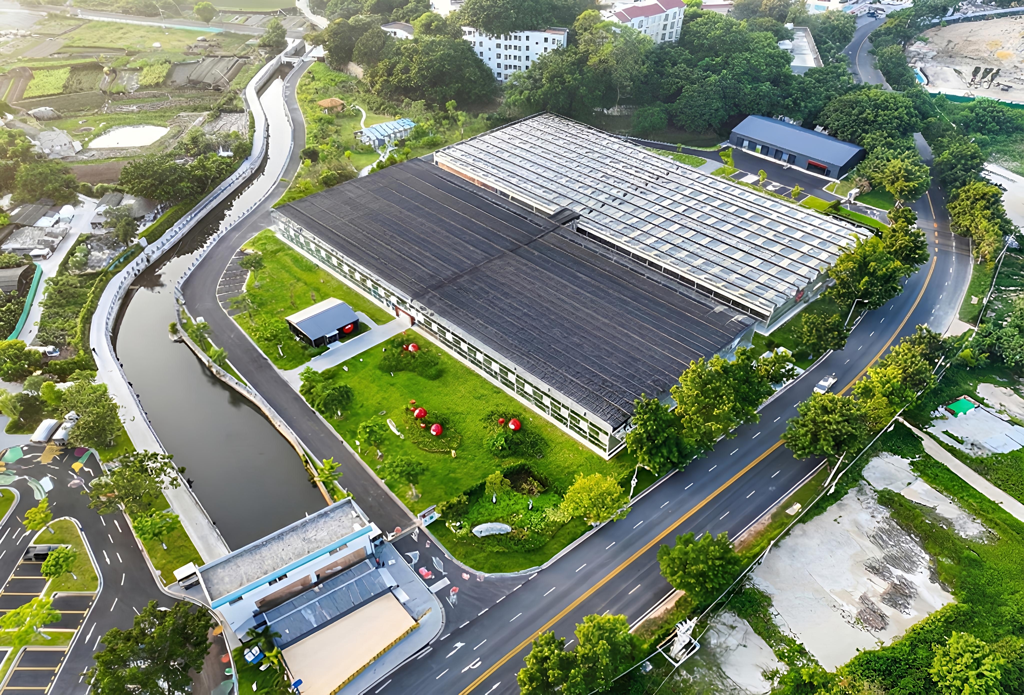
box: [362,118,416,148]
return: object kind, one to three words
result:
building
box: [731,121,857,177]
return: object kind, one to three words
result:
shed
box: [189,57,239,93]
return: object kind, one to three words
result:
shed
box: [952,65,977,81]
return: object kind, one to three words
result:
work vehicle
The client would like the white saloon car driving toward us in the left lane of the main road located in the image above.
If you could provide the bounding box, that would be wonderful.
[816,375,838,392]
